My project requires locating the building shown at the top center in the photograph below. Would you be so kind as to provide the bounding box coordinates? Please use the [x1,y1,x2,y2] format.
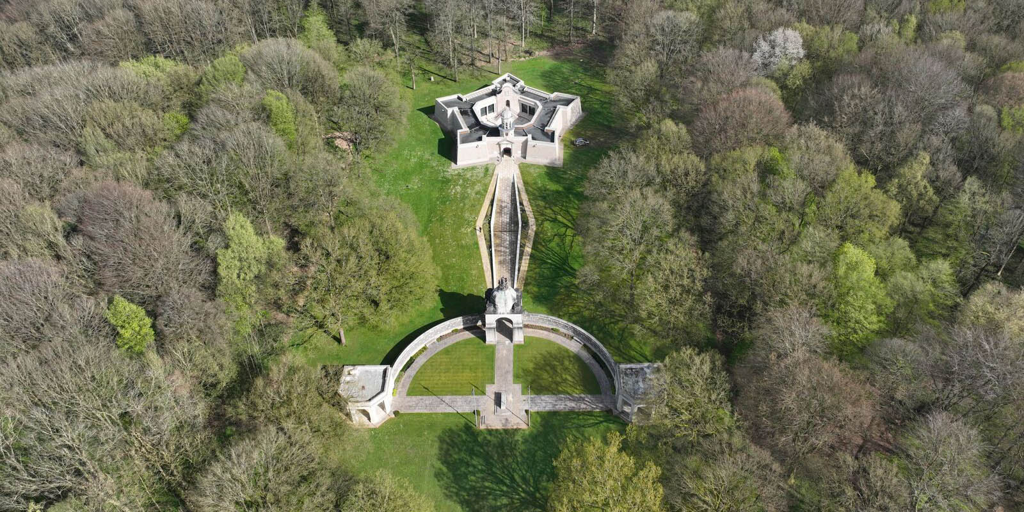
[433,73,583,165]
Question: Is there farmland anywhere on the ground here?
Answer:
No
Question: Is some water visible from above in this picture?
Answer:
No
